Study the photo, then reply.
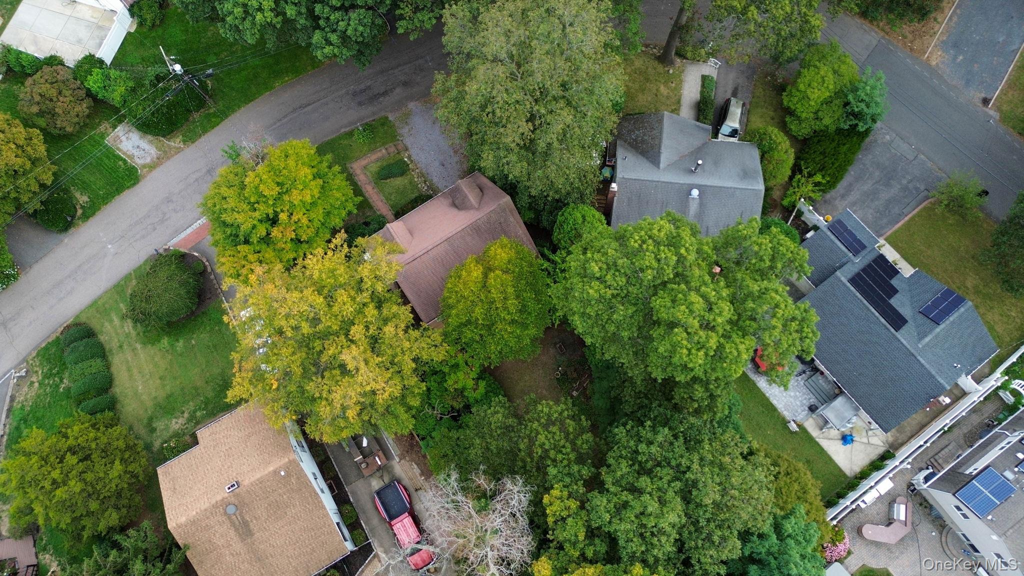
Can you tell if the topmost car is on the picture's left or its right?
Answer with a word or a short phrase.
right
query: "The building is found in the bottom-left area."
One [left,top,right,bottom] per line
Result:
[153,394,353,576]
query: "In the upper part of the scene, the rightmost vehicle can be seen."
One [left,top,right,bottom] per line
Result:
[715,91,754,142]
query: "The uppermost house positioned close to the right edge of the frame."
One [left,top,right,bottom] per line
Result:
[779,208,1001,434]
